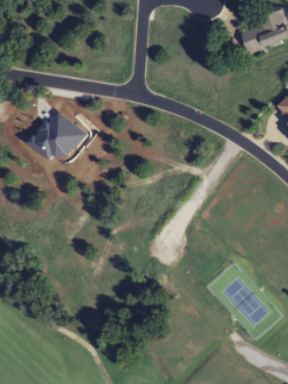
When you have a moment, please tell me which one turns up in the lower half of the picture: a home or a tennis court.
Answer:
tennis court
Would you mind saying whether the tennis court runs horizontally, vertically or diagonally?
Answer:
diagonally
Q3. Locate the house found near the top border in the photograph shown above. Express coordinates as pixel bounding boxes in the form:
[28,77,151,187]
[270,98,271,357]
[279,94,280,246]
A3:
[242,8,288,53]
